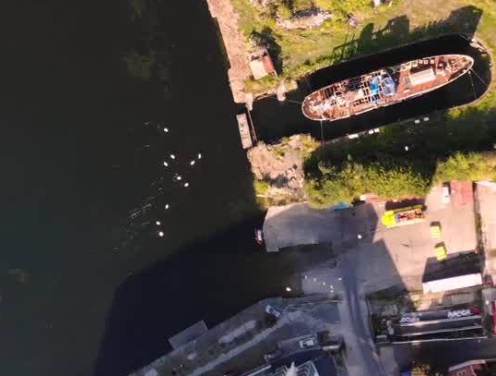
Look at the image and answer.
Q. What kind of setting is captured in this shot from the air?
port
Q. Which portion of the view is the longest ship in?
top right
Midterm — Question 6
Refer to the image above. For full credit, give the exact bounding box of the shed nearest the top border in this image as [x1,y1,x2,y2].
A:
[251,54,275,76]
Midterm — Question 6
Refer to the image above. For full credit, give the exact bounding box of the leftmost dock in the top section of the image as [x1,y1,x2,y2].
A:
[237,113,255,148]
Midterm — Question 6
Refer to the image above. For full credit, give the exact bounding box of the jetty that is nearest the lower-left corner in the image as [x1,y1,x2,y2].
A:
[168,319,207,347]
